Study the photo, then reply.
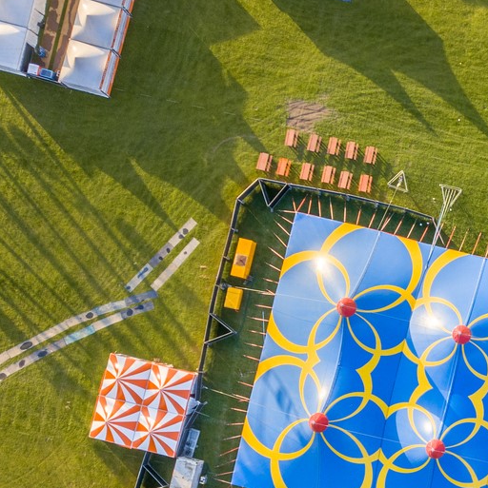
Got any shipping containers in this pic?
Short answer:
Yes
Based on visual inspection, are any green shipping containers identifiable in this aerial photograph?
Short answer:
No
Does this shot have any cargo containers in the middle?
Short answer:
Yes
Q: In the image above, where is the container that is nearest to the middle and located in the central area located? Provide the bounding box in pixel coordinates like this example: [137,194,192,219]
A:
[231,238,257,279]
